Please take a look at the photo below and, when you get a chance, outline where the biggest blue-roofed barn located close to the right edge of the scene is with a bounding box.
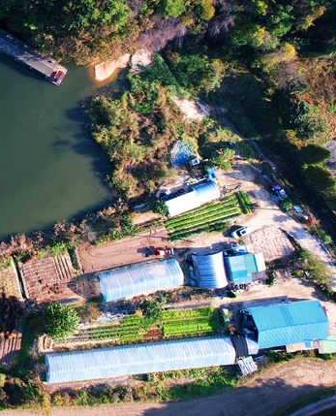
[246,297,329,347]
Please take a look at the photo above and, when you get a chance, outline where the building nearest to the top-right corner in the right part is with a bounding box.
[191,181,223,206]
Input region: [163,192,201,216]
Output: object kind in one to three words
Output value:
building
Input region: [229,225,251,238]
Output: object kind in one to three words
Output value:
vehicle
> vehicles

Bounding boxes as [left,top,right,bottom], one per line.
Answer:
[229,225,251,238]
[273,183,291,203]
[151,247,171,257]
